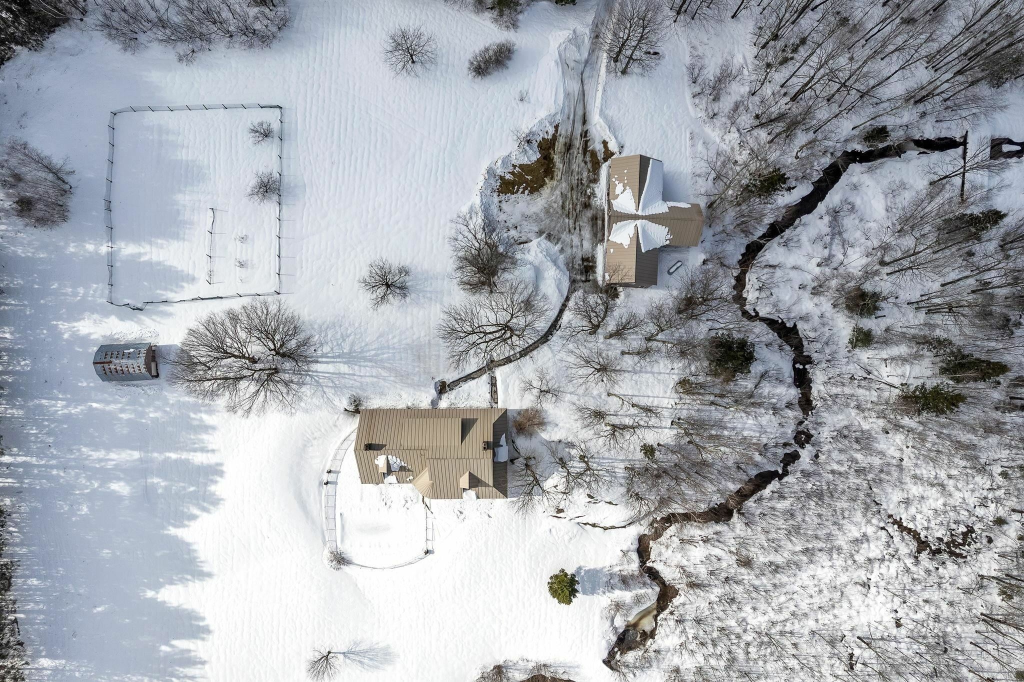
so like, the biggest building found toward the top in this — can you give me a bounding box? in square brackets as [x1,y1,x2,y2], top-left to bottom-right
[605,154,705,285]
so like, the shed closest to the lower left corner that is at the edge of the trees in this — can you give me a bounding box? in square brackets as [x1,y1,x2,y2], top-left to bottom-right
[92,342,158,381]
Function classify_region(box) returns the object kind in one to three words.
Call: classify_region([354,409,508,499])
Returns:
house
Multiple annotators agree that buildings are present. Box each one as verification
[92,342,158,381]
[354,409,508,499]
[605,154,705,285]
